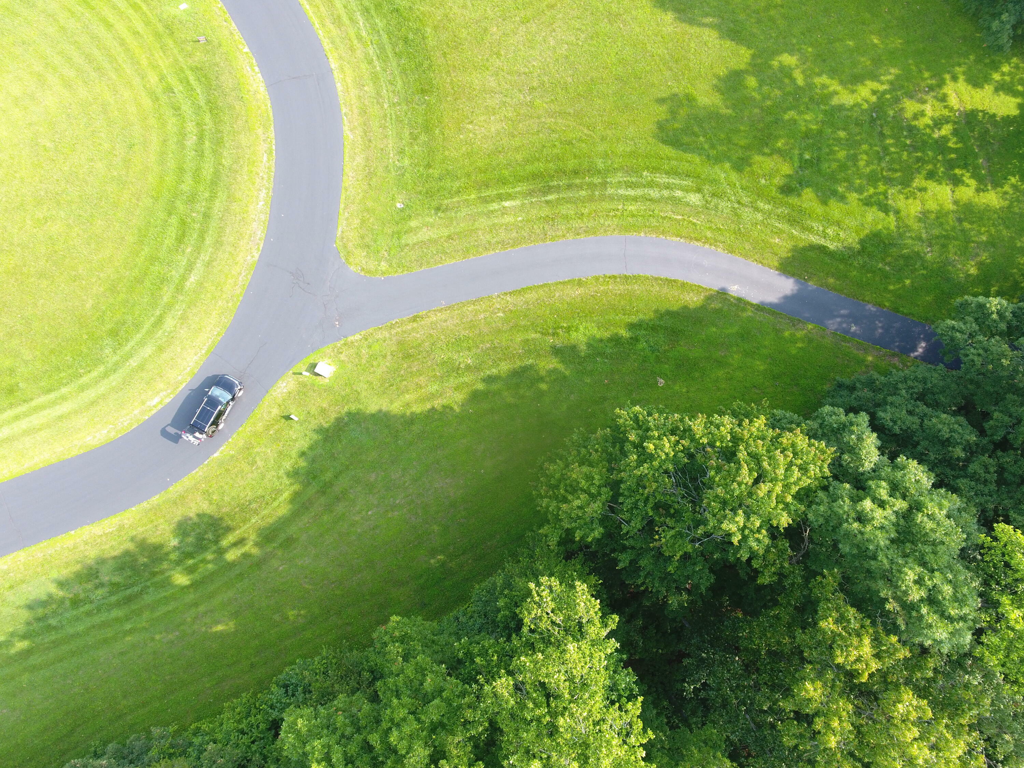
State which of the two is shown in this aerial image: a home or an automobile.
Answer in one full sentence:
The image shows an automobile.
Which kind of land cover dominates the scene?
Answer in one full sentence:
Most of the picture is covered by grass.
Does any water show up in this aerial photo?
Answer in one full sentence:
No, the picture contains no water.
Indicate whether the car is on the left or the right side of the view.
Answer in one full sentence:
It is on the left.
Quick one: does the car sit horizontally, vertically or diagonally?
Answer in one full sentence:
The car is laid out diagonally.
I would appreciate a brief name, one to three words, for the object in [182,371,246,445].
car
